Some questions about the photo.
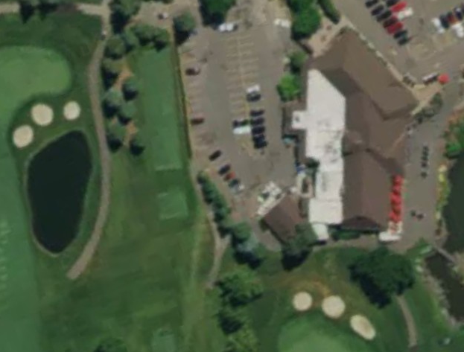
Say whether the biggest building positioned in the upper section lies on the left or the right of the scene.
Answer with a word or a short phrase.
right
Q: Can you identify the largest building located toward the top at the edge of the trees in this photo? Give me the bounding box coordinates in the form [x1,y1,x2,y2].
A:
[293,27,420,240]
